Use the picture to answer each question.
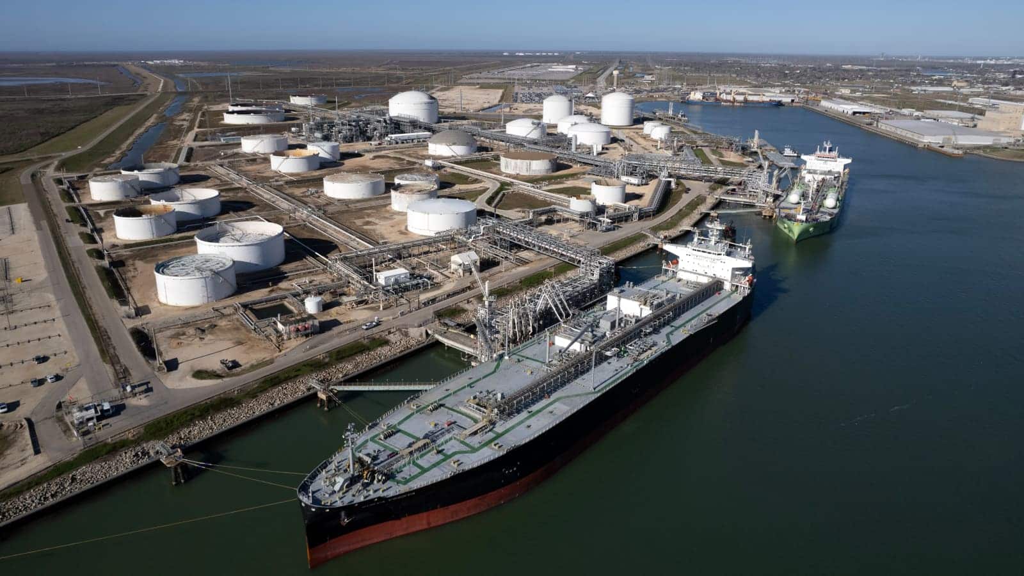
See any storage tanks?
Yes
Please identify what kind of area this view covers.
port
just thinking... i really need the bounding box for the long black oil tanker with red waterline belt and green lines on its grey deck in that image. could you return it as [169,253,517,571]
[296,219,768,569]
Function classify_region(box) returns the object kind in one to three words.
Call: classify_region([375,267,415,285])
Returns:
building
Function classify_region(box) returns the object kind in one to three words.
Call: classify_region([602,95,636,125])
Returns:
storage tank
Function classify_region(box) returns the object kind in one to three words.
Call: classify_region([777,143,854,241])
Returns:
ship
